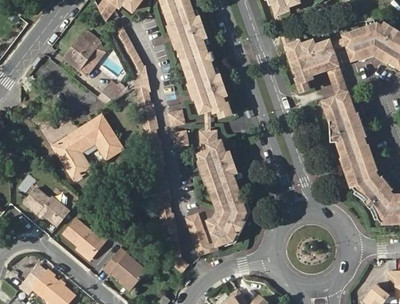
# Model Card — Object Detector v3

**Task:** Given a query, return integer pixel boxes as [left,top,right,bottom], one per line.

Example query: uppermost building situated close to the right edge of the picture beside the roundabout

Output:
[323,93,400,226]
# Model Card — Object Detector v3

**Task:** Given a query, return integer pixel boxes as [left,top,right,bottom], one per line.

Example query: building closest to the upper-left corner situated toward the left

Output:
[61,26,106,74]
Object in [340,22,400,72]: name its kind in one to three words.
building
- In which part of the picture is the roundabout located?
bottom right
